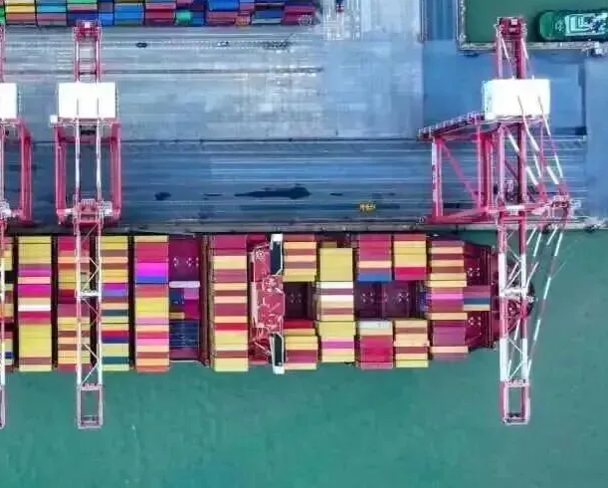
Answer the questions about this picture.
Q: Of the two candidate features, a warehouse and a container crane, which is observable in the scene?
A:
container crane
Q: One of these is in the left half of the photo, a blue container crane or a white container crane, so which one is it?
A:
white container crane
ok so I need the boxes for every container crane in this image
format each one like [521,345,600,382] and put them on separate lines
[0,19,39,429]
[419,17,576,427]
[49,19,123,429]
